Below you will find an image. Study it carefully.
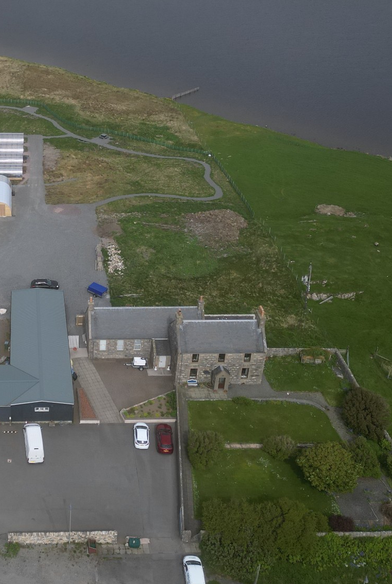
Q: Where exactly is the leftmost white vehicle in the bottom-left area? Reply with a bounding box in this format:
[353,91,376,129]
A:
[24,427,44,463]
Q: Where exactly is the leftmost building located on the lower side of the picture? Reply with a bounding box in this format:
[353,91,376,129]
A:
[0,284,74,423]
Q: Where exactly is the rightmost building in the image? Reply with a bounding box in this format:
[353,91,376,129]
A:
[172,305,269,394]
